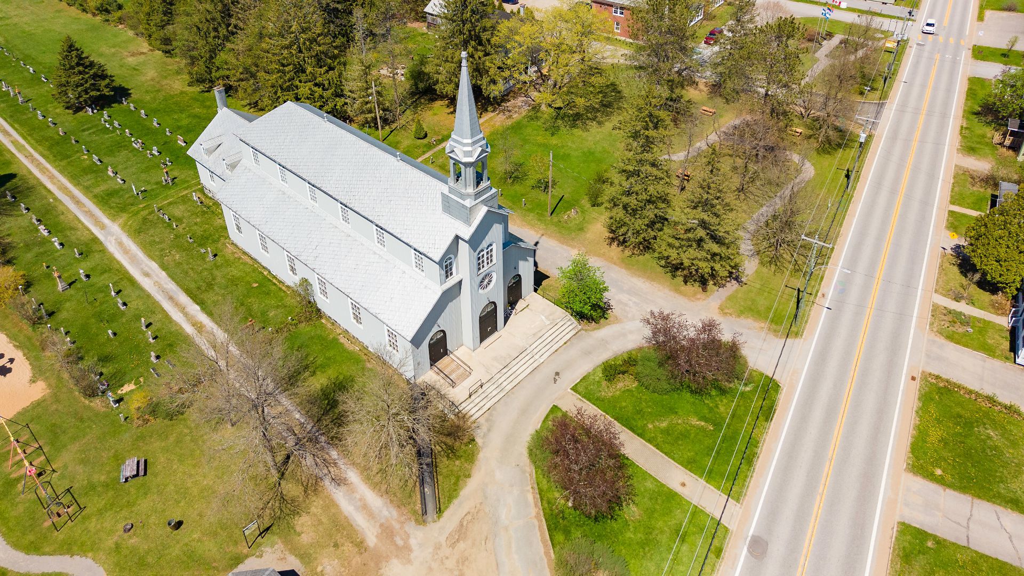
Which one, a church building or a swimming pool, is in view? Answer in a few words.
church building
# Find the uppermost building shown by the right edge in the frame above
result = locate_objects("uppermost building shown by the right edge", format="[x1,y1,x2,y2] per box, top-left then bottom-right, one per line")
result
[995,105,1024,161]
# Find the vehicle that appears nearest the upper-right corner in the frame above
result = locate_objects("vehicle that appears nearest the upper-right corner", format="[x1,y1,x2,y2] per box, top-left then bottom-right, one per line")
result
[921,17,936,34]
